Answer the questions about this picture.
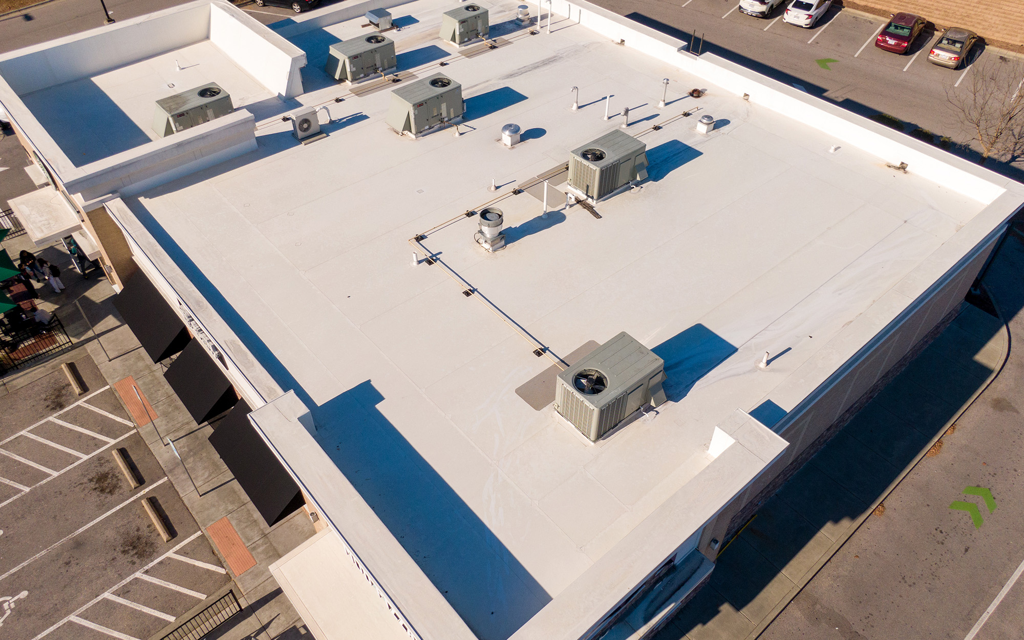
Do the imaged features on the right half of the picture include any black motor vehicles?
No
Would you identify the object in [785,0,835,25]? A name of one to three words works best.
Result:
car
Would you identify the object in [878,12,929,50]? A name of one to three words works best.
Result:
car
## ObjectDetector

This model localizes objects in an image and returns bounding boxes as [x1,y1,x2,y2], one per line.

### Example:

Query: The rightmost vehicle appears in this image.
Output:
[930,27,980,66]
